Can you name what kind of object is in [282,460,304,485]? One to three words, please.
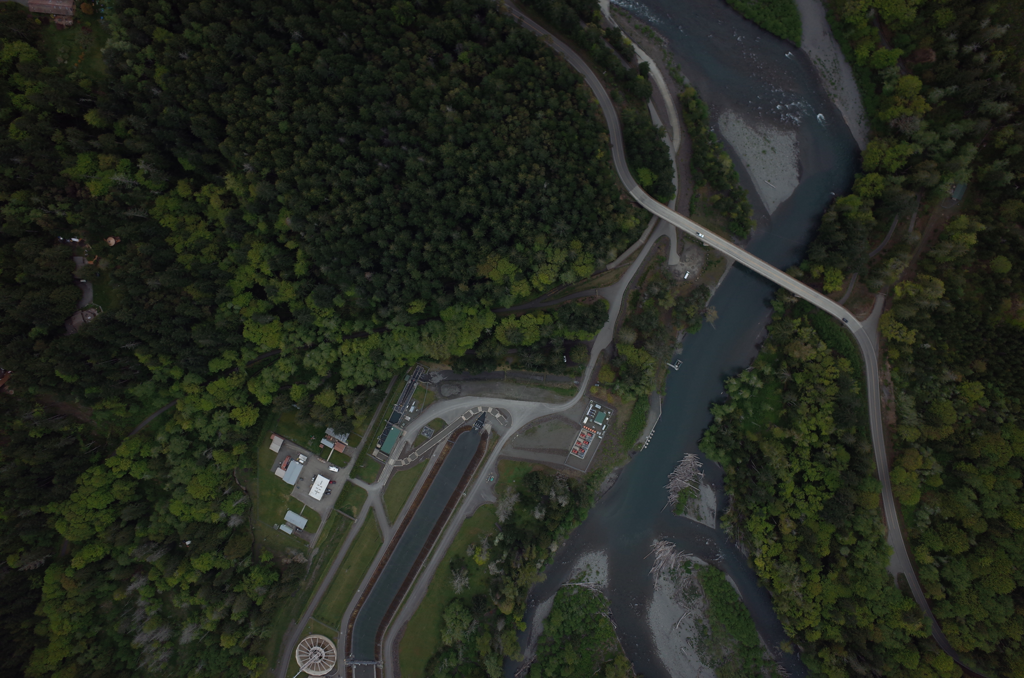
building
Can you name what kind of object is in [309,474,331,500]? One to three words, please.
building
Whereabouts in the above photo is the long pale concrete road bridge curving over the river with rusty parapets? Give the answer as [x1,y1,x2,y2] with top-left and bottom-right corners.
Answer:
[629,184,865,336]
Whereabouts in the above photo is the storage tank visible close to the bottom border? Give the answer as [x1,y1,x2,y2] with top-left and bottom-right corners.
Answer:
[293,634,337,678]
